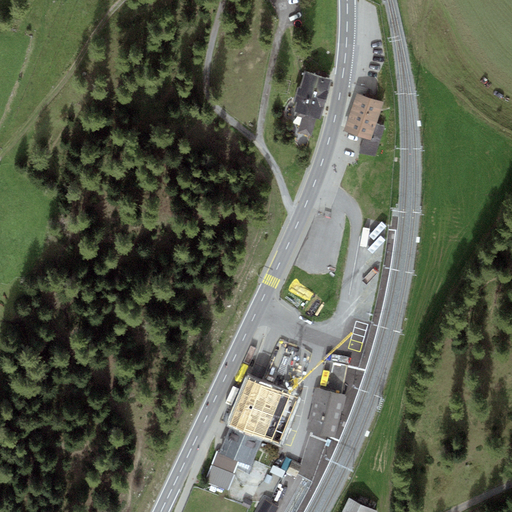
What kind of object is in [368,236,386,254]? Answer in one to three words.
vehicle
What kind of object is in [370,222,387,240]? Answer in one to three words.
vehicle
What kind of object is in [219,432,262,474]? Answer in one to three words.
building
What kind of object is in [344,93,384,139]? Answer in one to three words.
house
